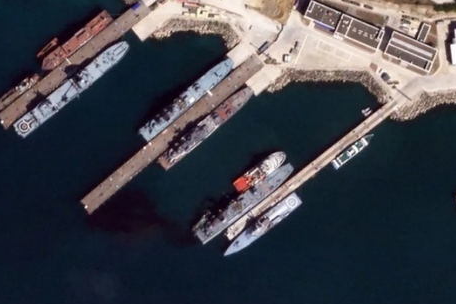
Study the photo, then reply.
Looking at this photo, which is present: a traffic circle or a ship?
ship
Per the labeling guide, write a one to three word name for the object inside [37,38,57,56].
vessel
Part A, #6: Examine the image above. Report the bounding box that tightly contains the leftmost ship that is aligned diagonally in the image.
[0,72,41,106]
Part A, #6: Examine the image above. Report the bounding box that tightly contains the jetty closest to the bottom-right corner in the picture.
[227,103,397,241]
